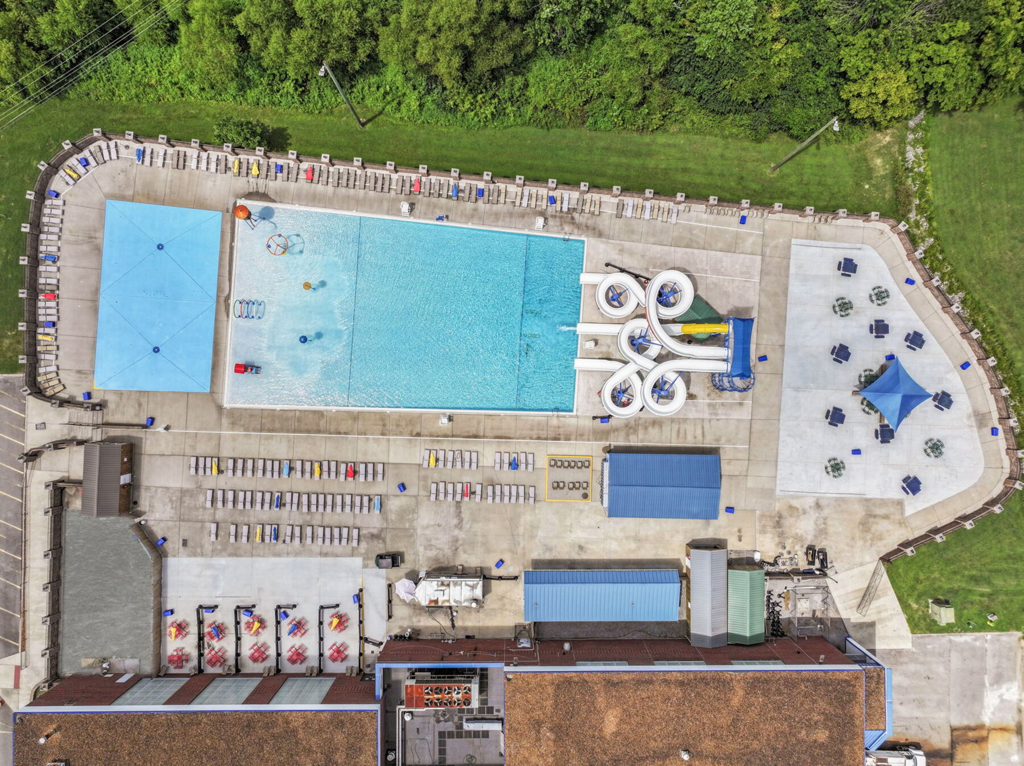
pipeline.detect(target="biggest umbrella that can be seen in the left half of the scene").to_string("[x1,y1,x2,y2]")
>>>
[394,580,416,604]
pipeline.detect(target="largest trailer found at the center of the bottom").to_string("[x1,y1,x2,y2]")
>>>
[415,573,483,608]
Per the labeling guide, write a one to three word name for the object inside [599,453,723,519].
building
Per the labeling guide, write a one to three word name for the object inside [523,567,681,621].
building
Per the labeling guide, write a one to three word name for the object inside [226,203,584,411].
swimming pool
